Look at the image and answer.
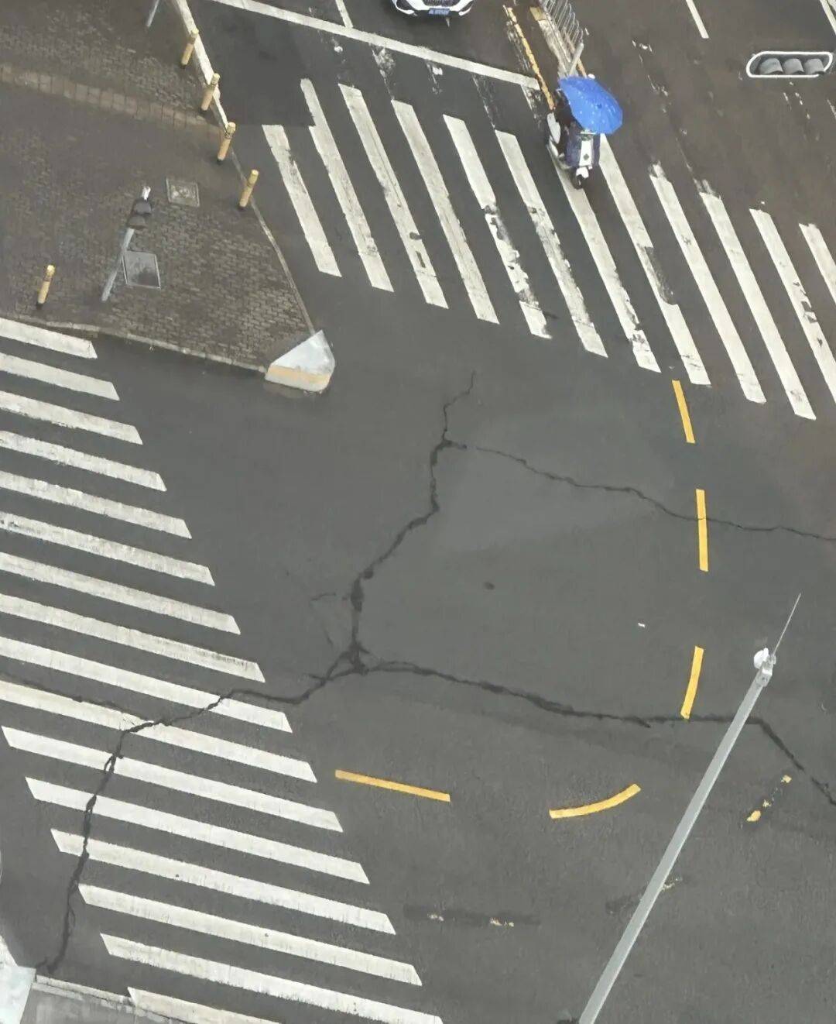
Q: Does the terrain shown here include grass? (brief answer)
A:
No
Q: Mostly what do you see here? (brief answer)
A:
paved ground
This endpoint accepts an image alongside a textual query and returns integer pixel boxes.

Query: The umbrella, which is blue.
[560,76,623,134]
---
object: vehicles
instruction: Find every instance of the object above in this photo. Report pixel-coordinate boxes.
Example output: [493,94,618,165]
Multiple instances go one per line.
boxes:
[376,0,473,19]
[554,93,599,189]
